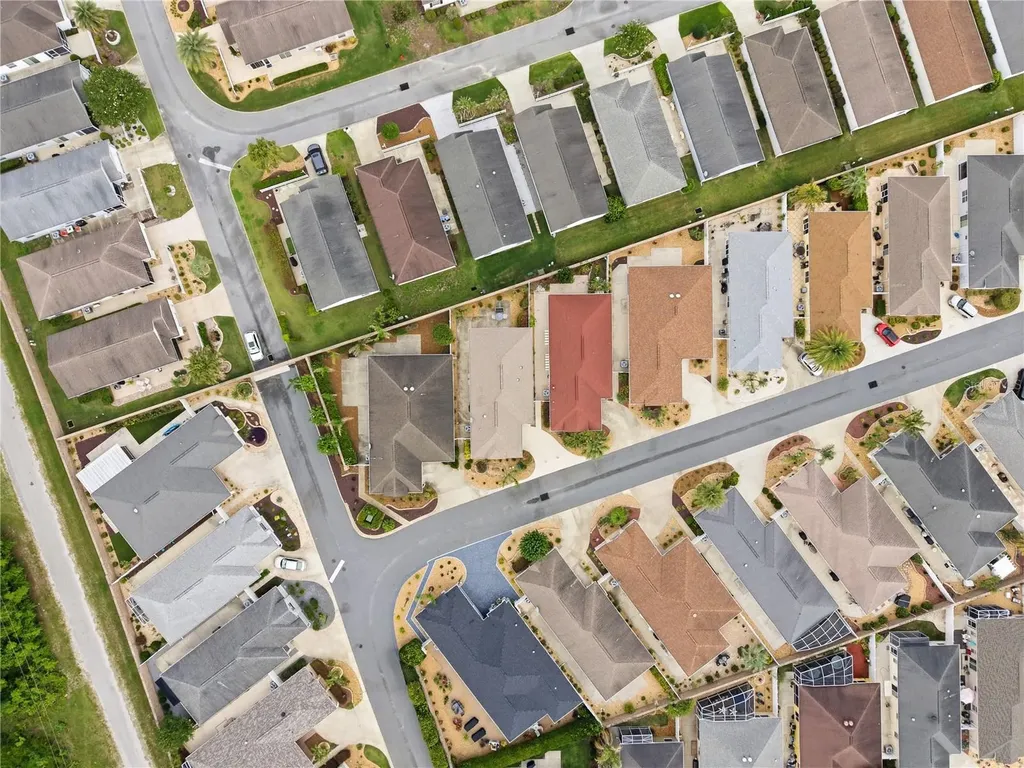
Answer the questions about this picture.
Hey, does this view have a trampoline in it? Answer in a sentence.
No, the picture doesn't show any trampoline.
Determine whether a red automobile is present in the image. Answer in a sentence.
Yes, there is a red automobile in the image.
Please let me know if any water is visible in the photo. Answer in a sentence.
No, the picture contains no water.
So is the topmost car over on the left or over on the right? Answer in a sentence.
You can find the topmost car on the left side of the picture.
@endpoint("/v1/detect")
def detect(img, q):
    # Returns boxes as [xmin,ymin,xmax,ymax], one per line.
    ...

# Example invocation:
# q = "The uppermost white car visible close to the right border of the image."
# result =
[947,294,979,319]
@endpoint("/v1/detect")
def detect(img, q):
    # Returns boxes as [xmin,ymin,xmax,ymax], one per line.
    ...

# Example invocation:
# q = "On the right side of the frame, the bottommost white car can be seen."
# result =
[797,349,824,378]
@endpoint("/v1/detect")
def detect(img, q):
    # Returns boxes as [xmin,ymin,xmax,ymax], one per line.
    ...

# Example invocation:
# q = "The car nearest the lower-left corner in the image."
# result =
[274,556,306,571]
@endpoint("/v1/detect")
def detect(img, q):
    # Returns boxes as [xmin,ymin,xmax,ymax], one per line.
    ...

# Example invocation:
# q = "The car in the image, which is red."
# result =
[873,321,902,348]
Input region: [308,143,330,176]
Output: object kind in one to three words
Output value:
car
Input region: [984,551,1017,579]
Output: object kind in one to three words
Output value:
tent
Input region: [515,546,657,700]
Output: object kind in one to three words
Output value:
house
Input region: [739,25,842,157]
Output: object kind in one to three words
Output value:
house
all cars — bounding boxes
[243,330,266,362]
[873,321,902,348]
[308,143,330,176]
[947,294,979,319]
[274,556,306,571]
[797,349,824,378]
[1014,367,1024,399]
